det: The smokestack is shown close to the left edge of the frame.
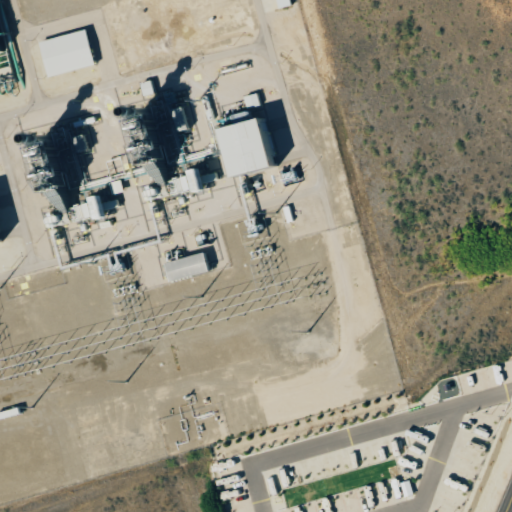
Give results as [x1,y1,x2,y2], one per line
[12,130,49,145]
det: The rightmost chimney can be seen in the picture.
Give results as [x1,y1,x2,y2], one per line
[112,104,148,118]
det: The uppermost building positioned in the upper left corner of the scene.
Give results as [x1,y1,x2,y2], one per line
[40,30,96,77]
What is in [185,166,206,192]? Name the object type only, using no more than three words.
house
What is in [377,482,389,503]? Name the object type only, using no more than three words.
vehicle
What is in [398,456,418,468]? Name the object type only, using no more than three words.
vehicle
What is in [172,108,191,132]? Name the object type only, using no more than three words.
building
